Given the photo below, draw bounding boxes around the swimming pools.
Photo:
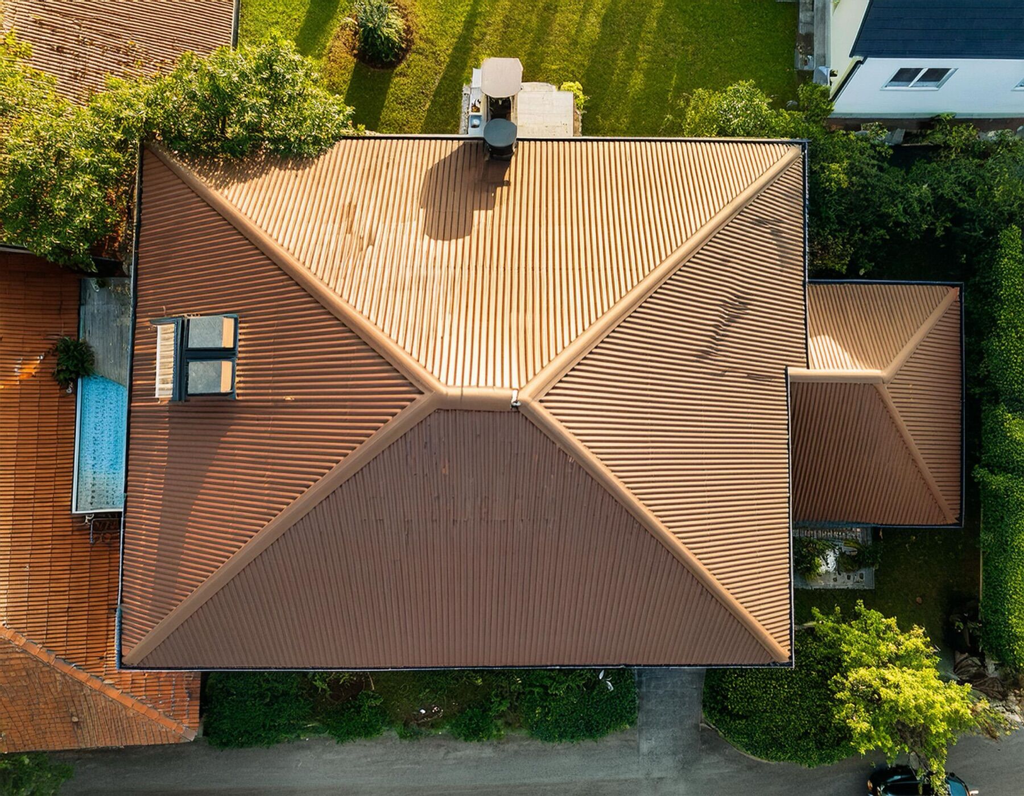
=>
[79,378,125,515]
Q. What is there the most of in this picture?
buildings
